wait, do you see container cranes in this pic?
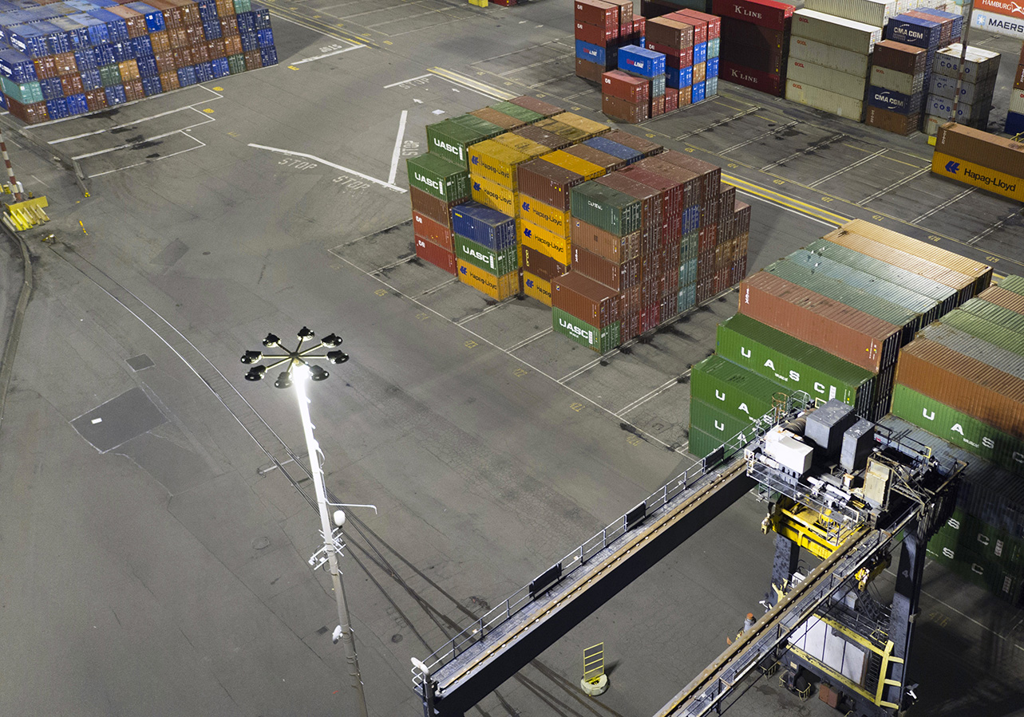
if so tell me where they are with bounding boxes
[378,379,979,717]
